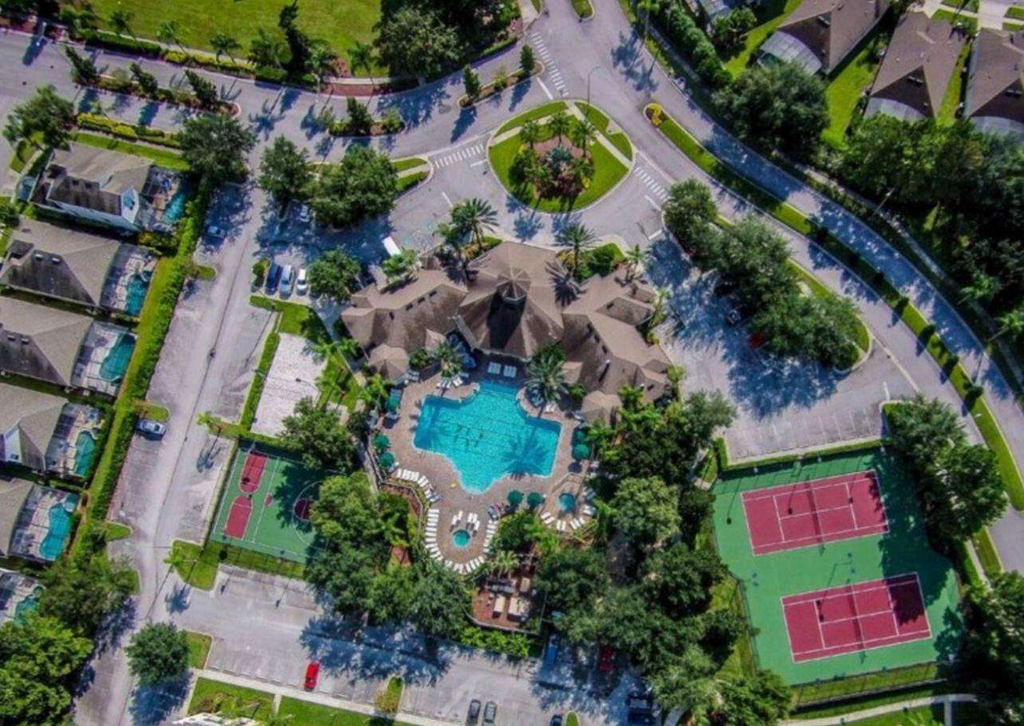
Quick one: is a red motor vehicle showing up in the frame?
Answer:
Yes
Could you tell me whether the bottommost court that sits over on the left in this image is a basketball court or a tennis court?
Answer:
basketball court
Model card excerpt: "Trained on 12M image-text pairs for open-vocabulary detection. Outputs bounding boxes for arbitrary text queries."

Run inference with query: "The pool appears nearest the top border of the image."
[163,180,194,223]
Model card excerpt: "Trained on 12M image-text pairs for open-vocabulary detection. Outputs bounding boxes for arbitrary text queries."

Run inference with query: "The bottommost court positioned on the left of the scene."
[210,448,345,572]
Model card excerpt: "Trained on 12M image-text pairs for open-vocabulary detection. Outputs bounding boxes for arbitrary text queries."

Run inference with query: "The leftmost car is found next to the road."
[135,420,164,436]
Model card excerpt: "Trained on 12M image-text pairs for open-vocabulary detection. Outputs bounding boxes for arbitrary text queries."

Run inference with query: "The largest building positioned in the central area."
[341,241,673,403]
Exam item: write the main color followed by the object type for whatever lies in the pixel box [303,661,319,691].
red car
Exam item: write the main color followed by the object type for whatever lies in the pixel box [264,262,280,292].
blue car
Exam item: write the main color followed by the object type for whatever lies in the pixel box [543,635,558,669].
blue car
